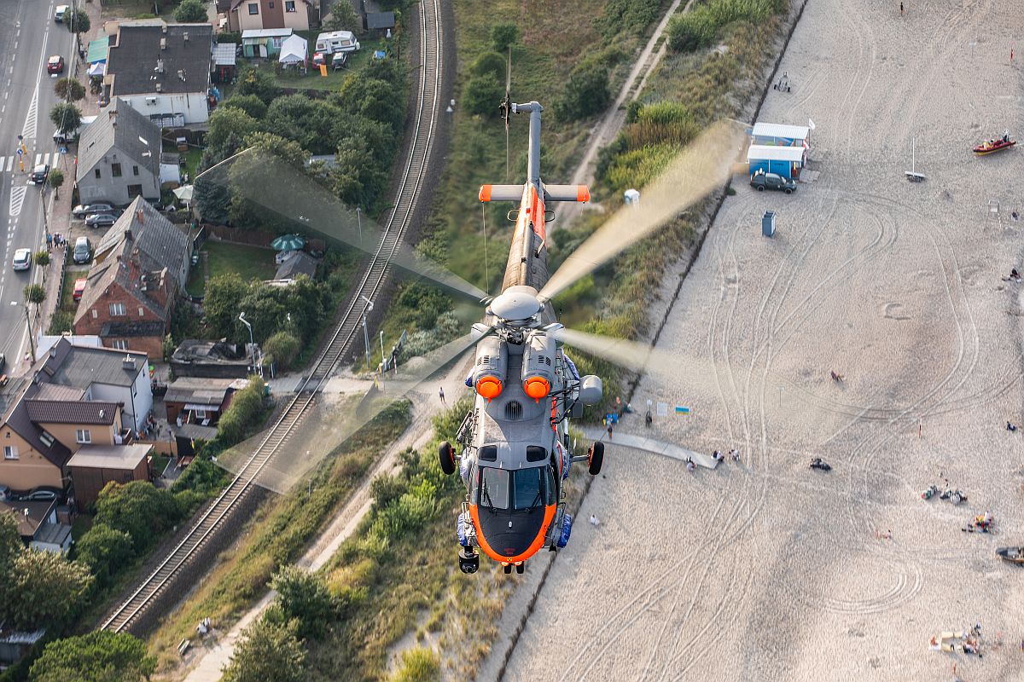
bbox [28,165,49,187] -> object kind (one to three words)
car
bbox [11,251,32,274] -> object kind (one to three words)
car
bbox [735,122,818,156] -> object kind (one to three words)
shed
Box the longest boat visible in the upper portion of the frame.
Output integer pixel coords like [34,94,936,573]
[973,134,1019,155]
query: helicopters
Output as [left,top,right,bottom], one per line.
[216,44,834,573]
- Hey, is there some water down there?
No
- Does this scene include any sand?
Yes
